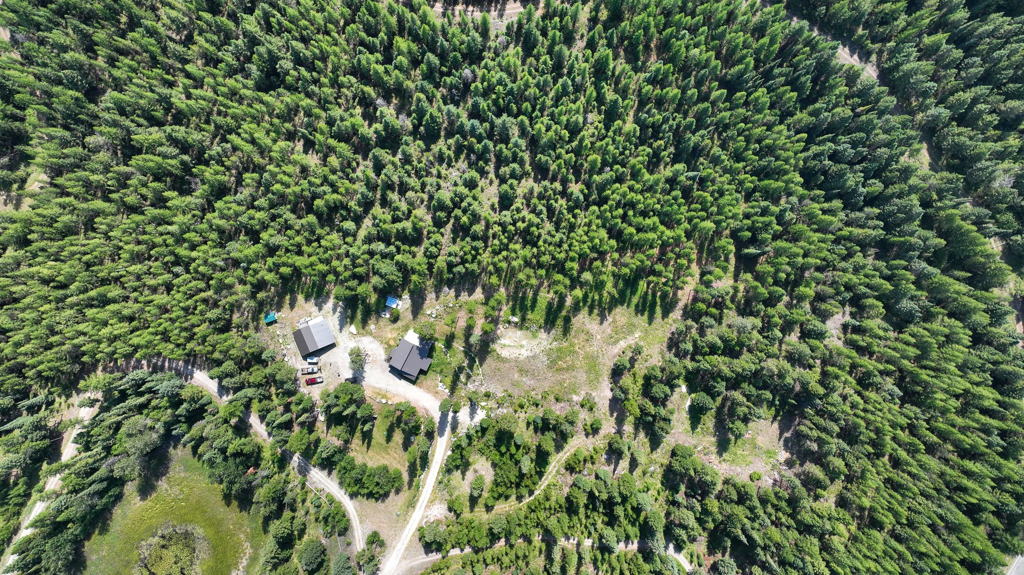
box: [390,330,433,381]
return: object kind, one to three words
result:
house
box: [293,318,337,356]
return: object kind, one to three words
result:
building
